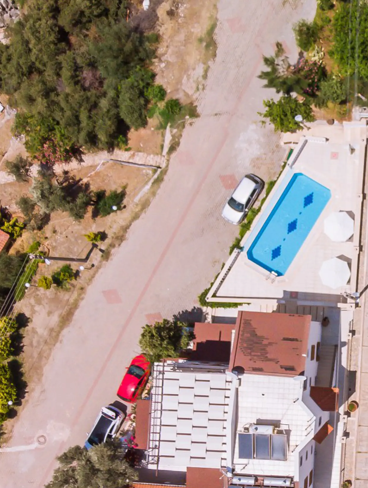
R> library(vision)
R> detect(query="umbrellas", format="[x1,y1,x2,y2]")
[319,256,351,290]
[324,212,355,242]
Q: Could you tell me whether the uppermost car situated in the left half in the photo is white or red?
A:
red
